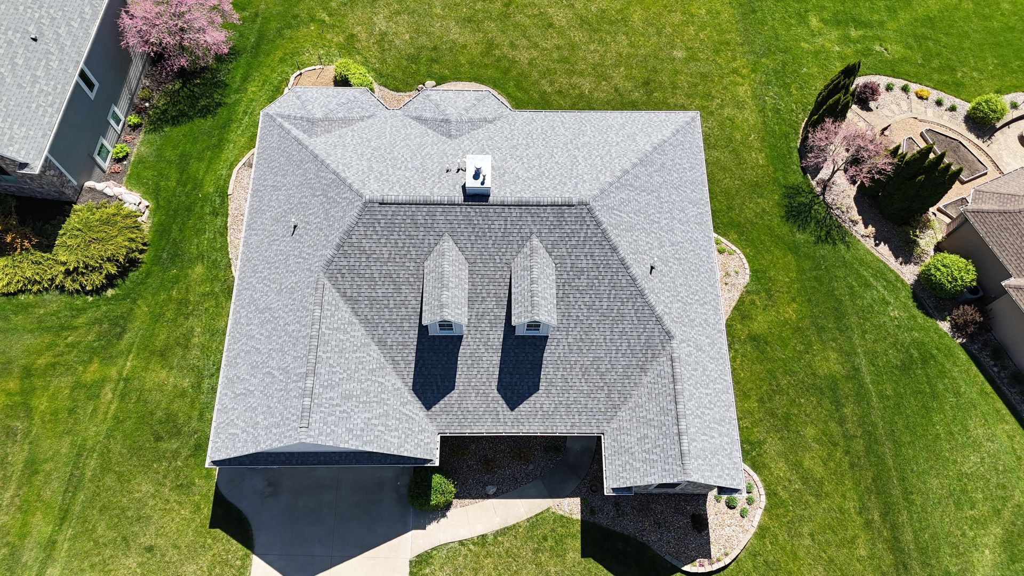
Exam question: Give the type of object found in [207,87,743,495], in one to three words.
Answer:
house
